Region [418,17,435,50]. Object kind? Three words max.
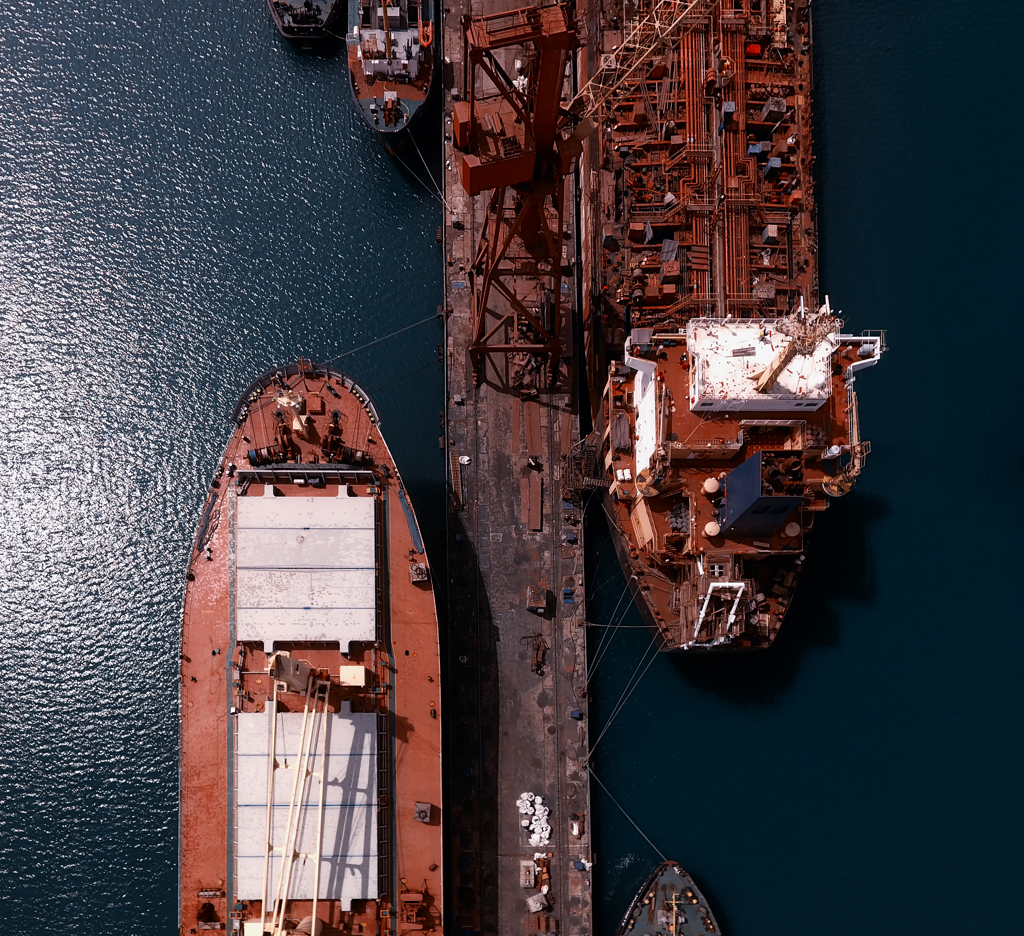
boat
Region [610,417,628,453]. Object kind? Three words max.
boat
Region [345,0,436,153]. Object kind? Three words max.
ship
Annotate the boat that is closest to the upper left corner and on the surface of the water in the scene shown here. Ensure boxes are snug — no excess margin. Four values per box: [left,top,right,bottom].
[250,0,347,52]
